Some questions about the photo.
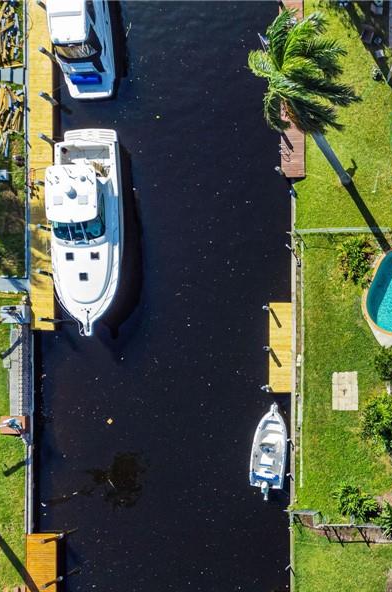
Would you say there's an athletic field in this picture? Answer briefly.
No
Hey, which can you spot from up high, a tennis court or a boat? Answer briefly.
boat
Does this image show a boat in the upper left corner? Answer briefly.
Yes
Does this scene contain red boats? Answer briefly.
No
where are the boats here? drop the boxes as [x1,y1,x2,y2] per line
[251,402,289,501]
[38,0,119,104]
[46,128,123,335]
